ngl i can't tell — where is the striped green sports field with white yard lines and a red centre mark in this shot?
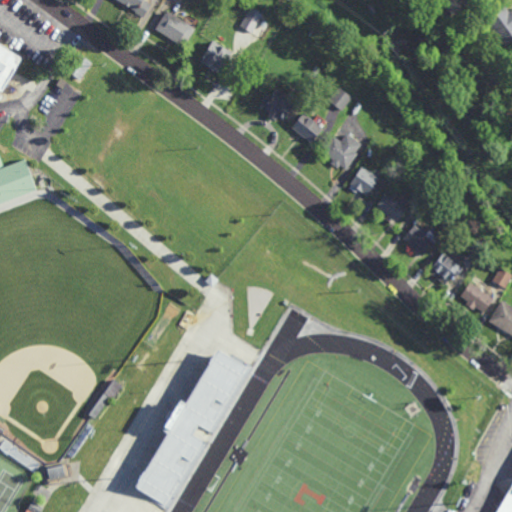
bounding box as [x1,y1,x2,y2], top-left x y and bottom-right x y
[193,352,436,512]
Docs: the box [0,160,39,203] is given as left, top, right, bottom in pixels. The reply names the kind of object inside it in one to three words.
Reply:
building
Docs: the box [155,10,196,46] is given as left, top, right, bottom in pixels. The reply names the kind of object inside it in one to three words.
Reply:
house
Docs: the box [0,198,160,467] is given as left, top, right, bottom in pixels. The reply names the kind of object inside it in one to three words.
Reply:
baseball field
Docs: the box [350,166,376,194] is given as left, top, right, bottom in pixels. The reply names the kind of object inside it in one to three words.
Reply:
house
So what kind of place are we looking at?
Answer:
sports ground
